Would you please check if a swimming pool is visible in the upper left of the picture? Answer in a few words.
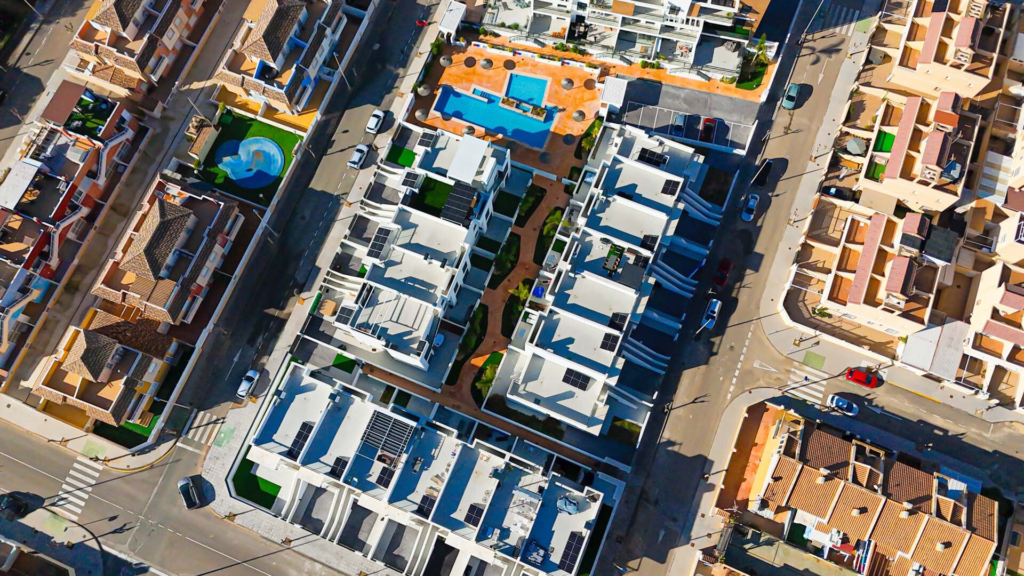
Yes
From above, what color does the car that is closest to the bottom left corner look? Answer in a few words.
black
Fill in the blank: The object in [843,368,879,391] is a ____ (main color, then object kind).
red car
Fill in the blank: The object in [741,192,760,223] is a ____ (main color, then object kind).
blue car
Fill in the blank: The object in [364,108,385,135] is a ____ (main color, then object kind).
white car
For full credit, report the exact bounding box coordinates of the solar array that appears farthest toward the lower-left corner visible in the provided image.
[282,430,307,462]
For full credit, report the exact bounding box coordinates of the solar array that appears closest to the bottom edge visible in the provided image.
[552,528,585,576]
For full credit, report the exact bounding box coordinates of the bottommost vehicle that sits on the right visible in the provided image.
[825,392,860,417]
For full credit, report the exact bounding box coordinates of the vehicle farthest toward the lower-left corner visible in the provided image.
[0,498,30,519]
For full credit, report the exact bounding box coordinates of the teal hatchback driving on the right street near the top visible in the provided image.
[782,83,800,111]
